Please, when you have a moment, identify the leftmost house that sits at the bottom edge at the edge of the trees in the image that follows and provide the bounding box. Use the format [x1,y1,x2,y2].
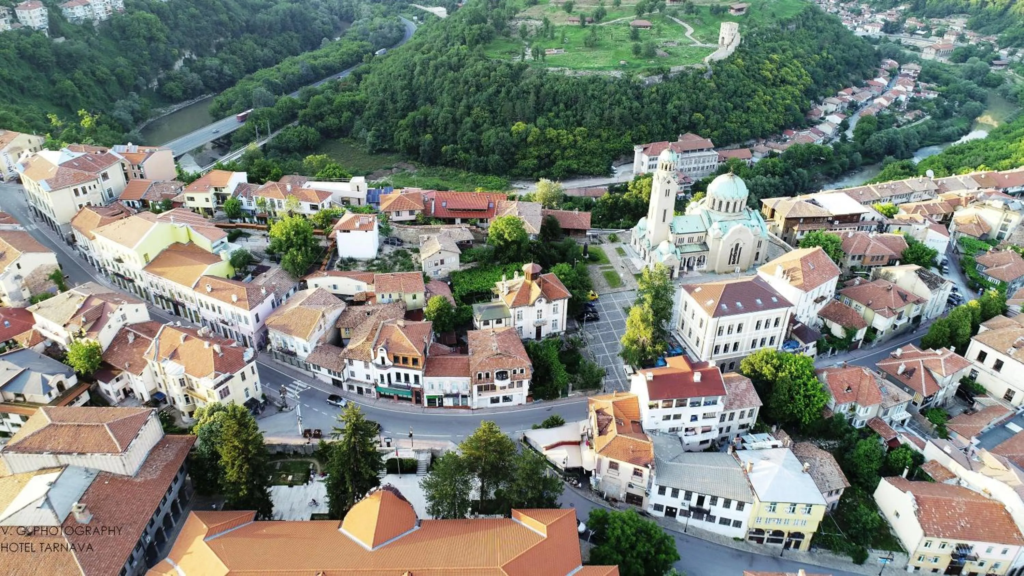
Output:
[0,406,208,576]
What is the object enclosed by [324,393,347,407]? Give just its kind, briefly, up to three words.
car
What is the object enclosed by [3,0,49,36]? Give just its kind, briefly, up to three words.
building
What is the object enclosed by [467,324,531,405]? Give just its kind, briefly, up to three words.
house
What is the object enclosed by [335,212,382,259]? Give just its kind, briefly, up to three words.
house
